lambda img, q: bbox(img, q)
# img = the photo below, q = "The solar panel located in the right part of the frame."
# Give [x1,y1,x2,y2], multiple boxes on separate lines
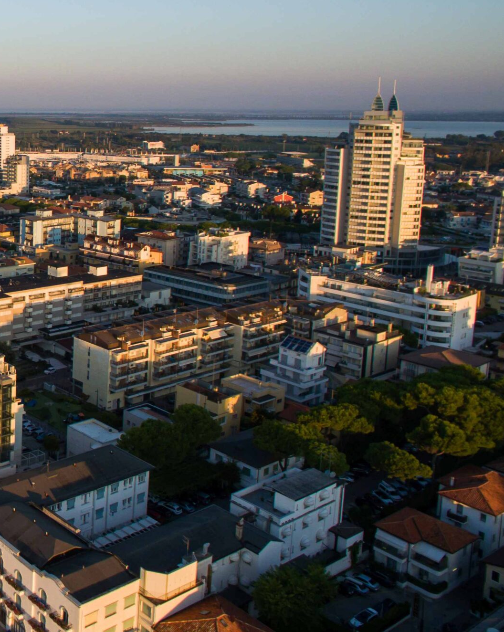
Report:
[297,337,325,351]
